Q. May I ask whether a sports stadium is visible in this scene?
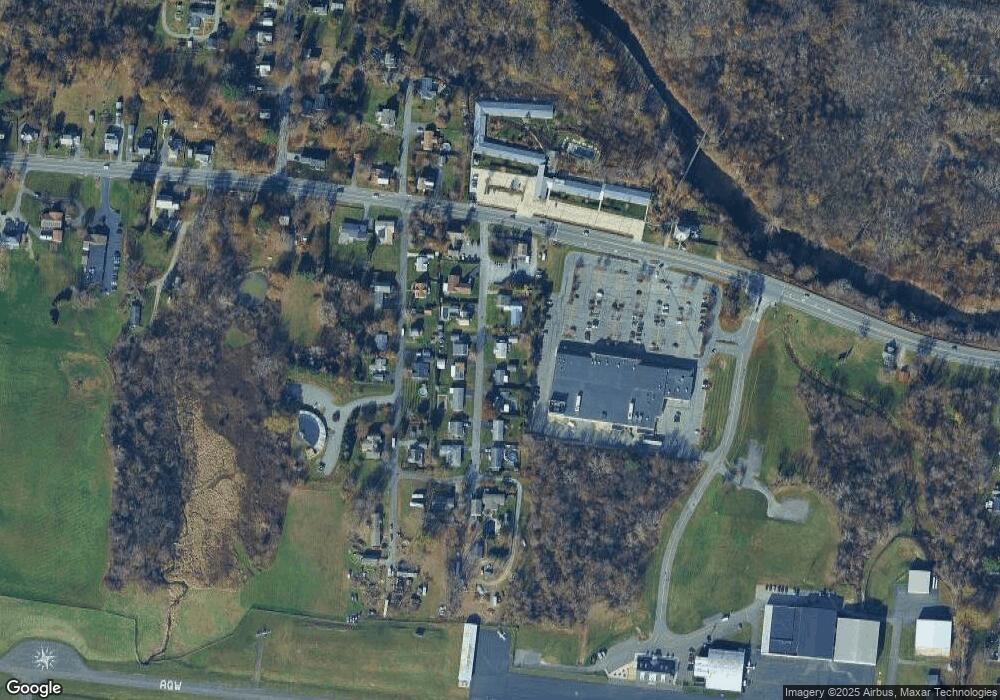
No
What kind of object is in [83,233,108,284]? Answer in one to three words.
building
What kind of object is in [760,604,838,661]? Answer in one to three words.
hangar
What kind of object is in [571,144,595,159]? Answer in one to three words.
swimming pool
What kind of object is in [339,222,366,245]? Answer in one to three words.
house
